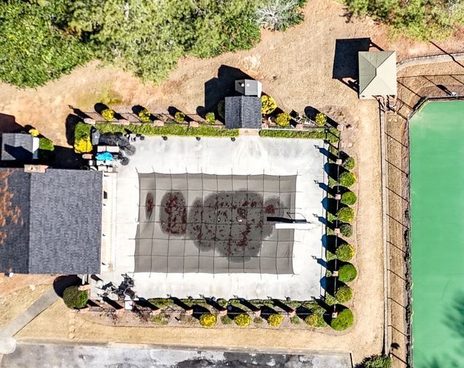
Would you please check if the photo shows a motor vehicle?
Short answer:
No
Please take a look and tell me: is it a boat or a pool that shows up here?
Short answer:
pool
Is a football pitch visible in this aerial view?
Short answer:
No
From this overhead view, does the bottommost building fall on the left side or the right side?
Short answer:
left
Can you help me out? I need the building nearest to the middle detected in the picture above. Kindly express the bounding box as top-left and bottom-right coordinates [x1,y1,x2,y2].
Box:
[221,96,261,130]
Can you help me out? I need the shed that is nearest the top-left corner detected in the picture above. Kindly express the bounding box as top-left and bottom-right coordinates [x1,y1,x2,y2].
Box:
[1,133,43,161]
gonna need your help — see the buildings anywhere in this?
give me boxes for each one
[359,51,397,100]
[1,133,43,161]
[0,162,123,281]
[221,96,261,130]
